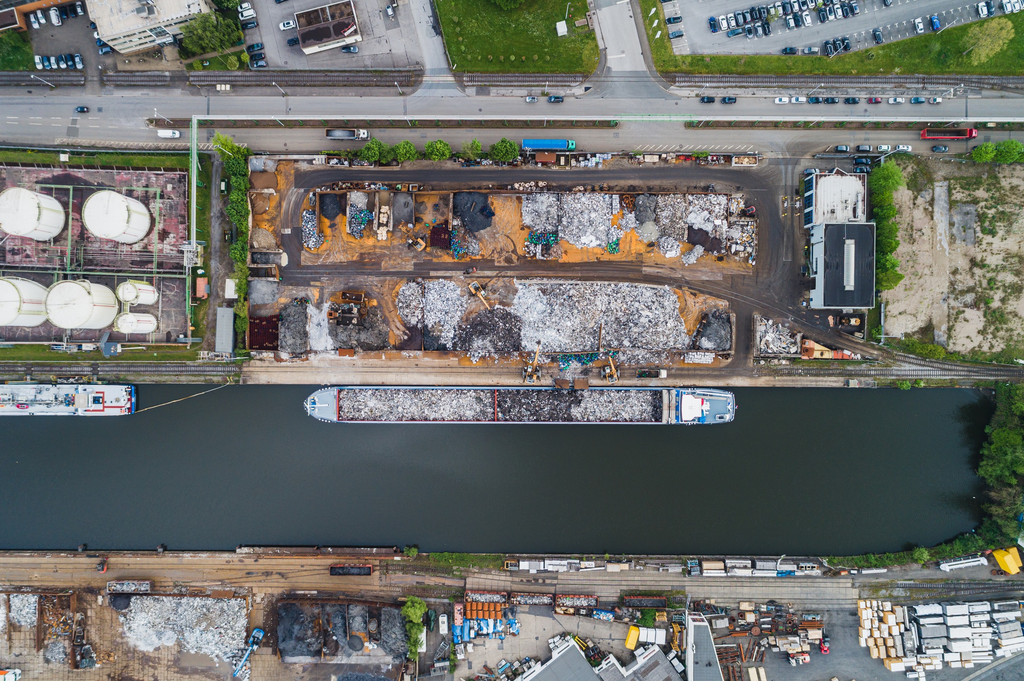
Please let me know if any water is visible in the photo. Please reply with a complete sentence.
Yes, water shows up in the scene.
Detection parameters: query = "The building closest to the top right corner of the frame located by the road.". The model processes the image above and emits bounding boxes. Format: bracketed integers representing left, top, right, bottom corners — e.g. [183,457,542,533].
[804,168,867,228]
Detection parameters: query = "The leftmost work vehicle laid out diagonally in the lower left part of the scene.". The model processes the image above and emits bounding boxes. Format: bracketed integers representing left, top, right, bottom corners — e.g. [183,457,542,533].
[227,625,267,681]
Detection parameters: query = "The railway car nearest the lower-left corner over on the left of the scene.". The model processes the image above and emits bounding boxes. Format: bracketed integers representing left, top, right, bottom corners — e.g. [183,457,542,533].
[107,580,156,593]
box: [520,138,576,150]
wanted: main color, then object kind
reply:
blue vehicle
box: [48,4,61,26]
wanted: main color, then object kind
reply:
white vehicle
